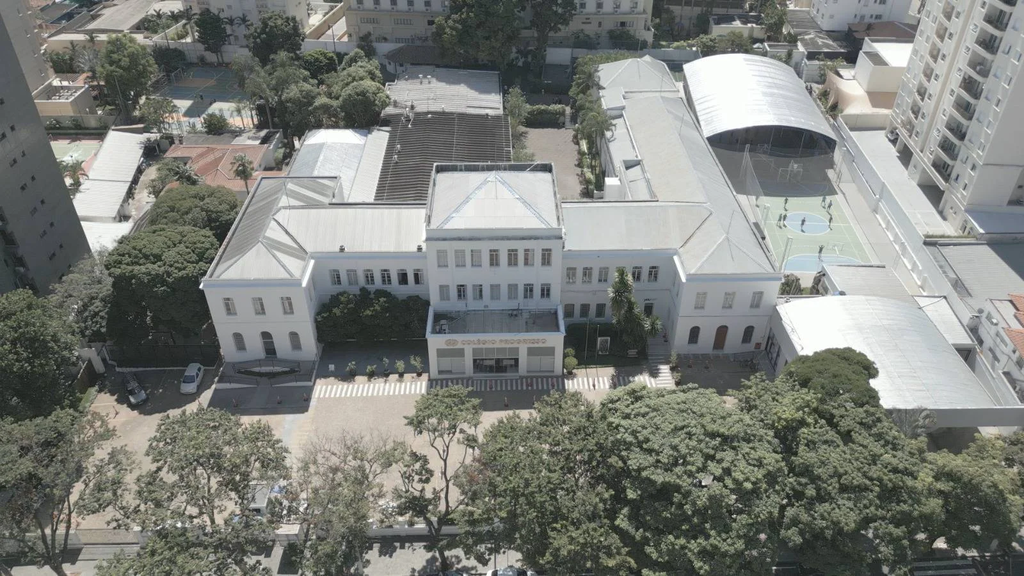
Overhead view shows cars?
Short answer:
Yes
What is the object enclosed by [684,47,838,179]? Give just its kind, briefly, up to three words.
building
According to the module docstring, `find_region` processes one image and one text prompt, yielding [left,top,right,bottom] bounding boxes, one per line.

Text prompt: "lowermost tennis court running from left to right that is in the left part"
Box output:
[52,142,107,163]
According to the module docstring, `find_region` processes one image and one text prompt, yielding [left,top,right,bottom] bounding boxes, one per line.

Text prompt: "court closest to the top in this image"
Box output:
[154,65,256,129]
